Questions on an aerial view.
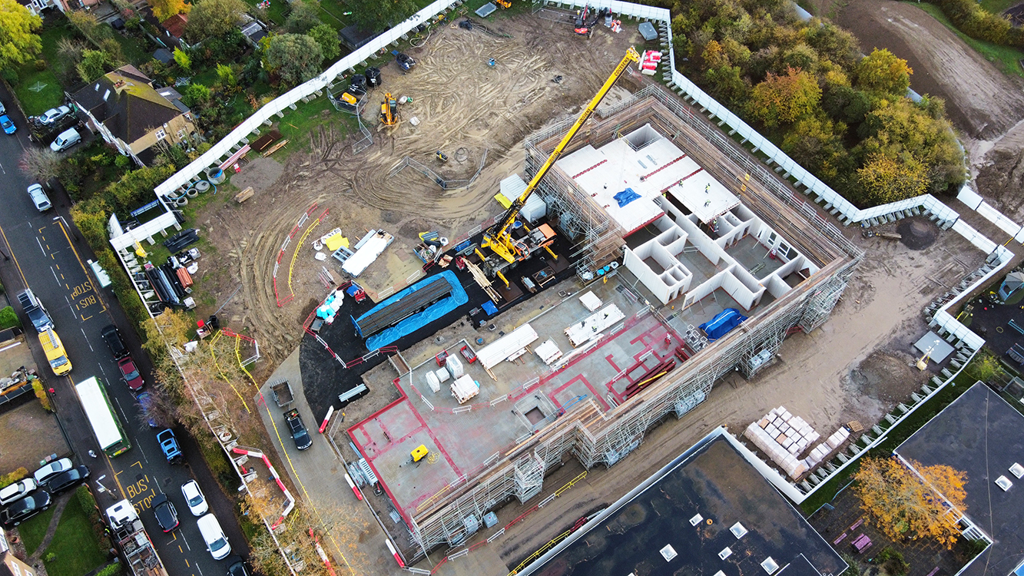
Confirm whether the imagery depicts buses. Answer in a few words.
Yes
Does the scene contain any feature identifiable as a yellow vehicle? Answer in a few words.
Yes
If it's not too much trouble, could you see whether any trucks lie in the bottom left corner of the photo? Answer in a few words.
Yes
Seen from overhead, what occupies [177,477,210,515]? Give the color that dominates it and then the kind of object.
white car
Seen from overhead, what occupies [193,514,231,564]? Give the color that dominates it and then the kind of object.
white van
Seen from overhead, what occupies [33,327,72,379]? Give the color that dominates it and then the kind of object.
yellow van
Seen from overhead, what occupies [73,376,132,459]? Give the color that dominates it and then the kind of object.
white bus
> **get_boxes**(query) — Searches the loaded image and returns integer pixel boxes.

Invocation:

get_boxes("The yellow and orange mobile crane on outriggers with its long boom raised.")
[477,42,646,322]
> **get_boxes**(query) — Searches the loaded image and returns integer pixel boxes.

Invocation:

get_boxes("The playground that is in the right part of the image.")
[951,263,1024,387]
